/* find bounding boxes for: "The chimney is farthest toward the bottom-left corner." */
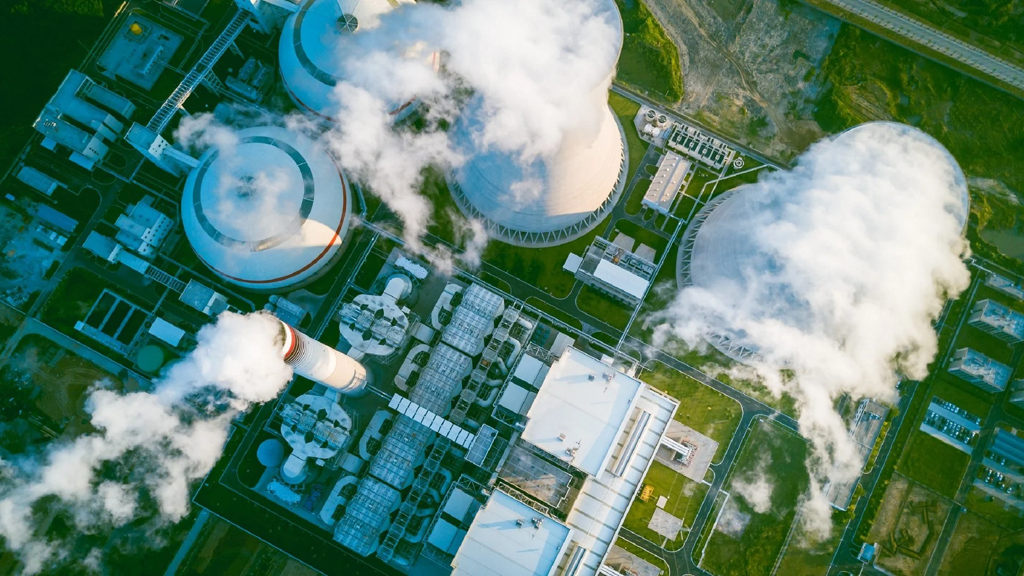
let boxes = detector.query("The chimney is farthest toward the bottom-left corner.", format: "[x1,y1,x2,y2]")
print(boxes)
[243,315,378,404]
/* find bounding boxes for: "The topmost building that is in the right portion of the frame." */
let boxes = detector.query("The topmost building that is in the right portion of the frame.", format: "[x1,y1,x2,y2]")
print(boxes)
[640,151,692,218]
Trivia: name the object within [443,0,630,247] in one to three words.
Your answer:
cooling tower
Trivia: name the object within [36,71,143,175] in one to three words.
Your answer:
building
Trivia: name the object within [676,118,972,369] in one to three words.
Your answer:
cooling tower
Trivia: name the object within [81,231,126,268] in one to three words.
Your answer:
house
